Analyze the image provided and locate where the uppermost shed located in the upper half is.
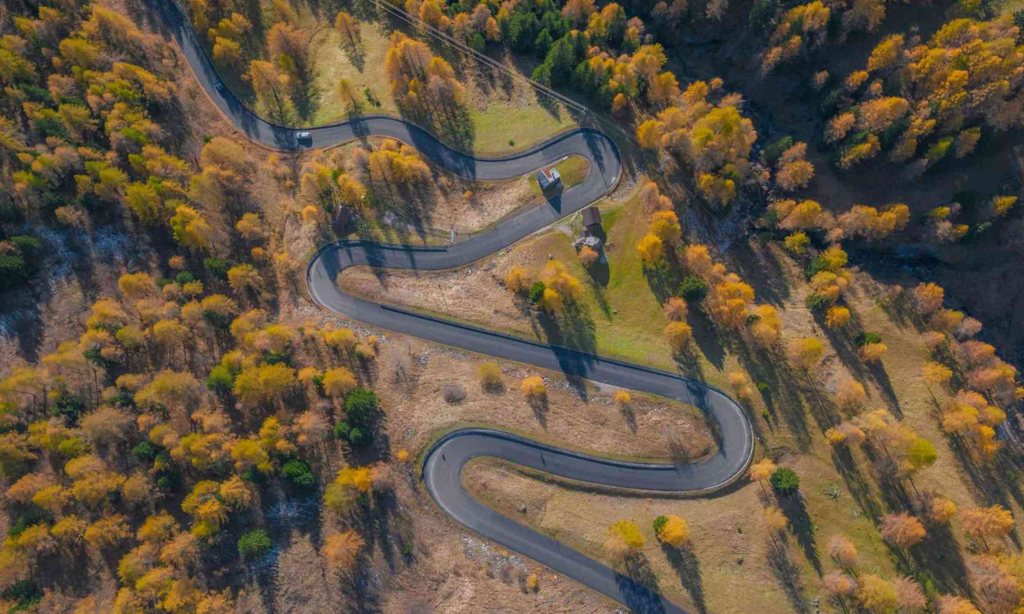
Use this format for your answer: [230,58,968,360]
[535,170,561,196]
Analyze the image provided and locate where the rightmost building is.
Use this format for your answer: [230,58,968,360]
[582,208,602,233]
